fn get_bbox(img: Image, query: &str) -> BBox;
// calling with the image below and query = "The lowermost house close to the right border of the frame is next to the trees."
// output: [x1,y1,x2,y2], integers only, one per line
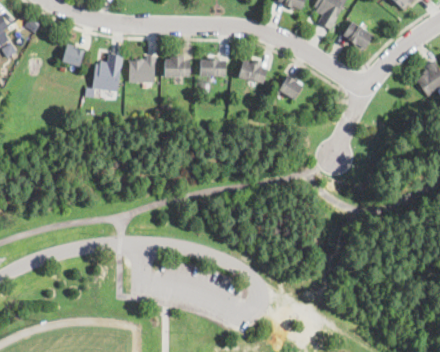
[420,60,440,96]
